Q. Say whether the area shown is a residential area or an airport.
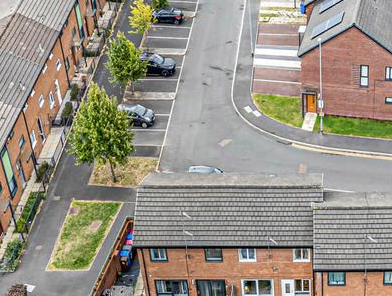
residential area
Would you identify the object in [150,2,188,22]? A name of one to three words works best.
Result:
car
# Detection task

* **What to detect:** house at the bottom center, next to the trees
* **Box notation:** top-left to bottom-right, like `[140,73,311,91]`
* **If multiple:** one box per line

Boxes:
[132,172,318,296]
